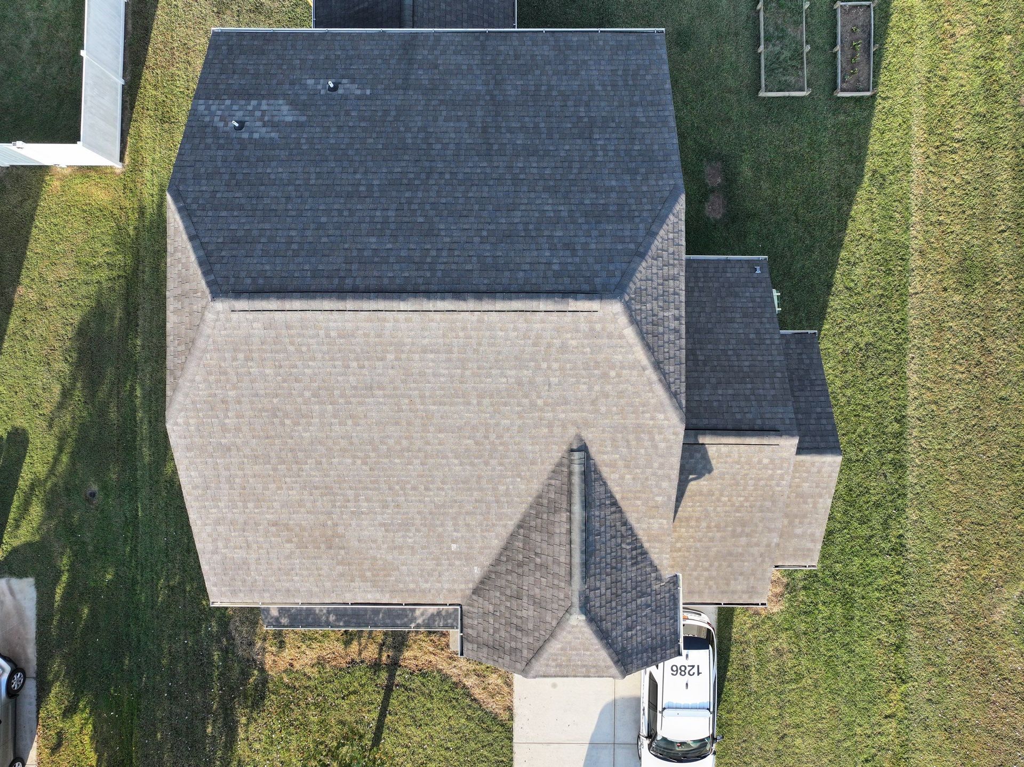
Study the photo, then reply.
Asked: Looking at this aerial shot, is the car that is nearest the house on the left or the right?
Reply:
right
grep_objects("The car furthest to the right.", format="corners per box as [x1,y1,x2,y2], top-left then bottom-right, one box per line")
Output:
[635,611,727,767]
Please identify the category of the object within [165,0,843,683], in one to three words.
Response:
house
